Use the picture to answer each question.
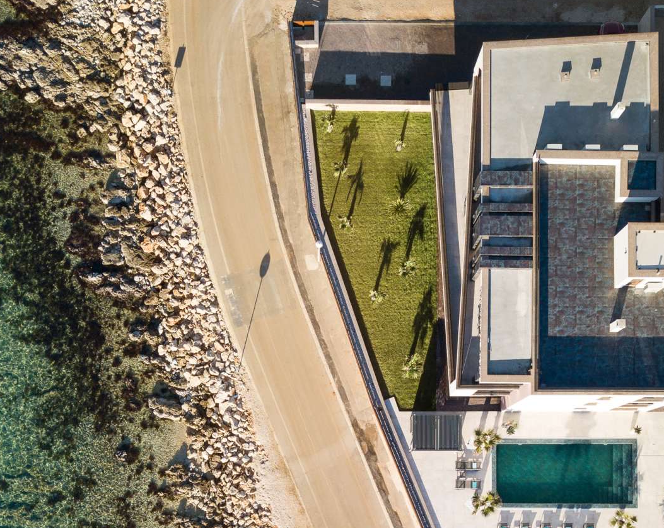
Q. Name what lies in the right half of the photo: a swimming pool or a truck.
swimming pool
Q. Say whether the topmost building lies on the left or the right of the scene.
right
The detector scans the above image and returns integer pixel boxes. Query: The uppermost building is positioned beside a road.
[467,32,664,410]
